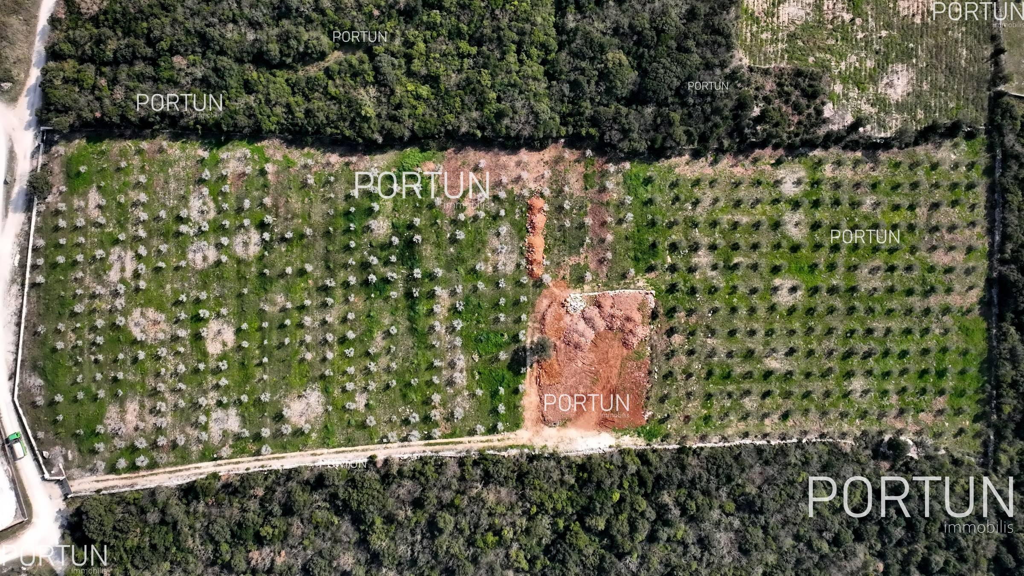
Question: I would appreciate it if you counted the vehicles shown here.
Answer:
1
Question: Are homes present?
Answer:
No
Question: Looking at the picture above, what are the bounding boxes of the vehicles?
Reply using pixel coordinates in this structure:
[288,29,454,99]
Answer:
[9,433,32,462]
